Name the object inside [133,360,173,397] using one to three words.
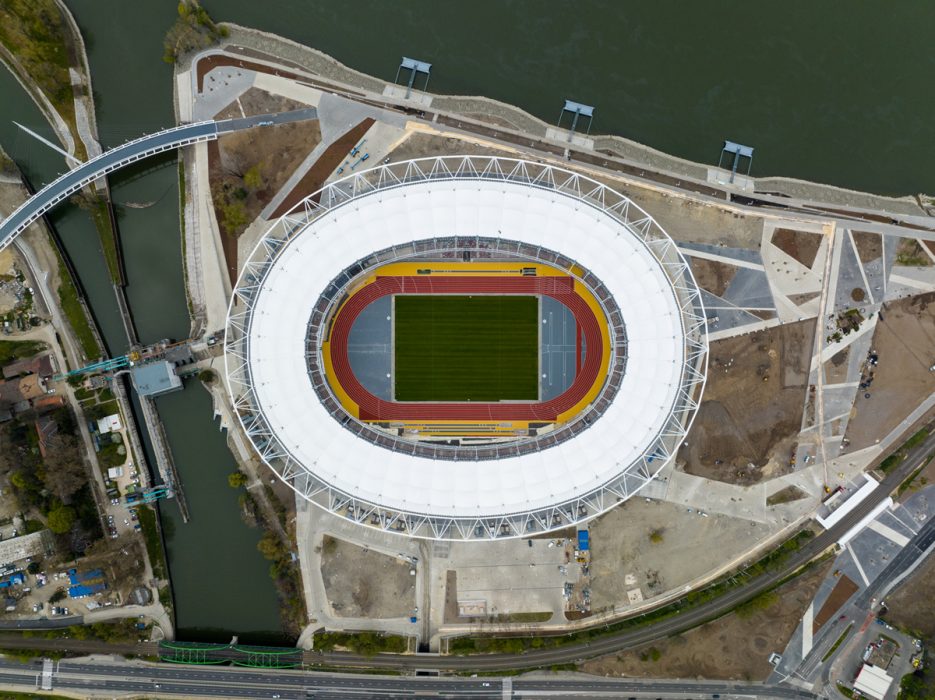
building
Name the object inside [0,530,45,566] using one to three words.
shed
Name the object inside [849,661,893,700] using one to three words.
building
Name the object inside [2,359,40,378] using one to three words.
house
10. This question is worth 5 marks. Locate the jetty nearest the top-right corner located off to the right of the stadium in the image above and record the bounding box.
[719,141,754,179]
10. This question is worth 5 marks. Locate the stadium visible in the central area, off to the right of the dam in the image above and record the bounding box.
[225,155,709,540]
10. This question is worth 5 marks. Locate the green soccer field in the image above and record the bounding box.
[392,294,542,404]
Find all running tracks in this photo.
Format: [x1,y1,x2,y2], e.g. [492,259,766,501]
[320,256,614,445]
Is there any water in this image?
Yes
